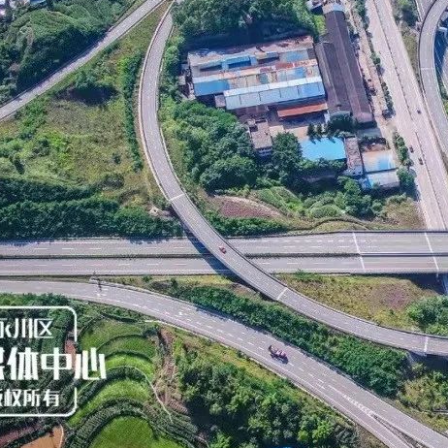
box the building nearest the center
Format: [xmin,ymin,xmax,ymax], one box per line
[248,125,273,161]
